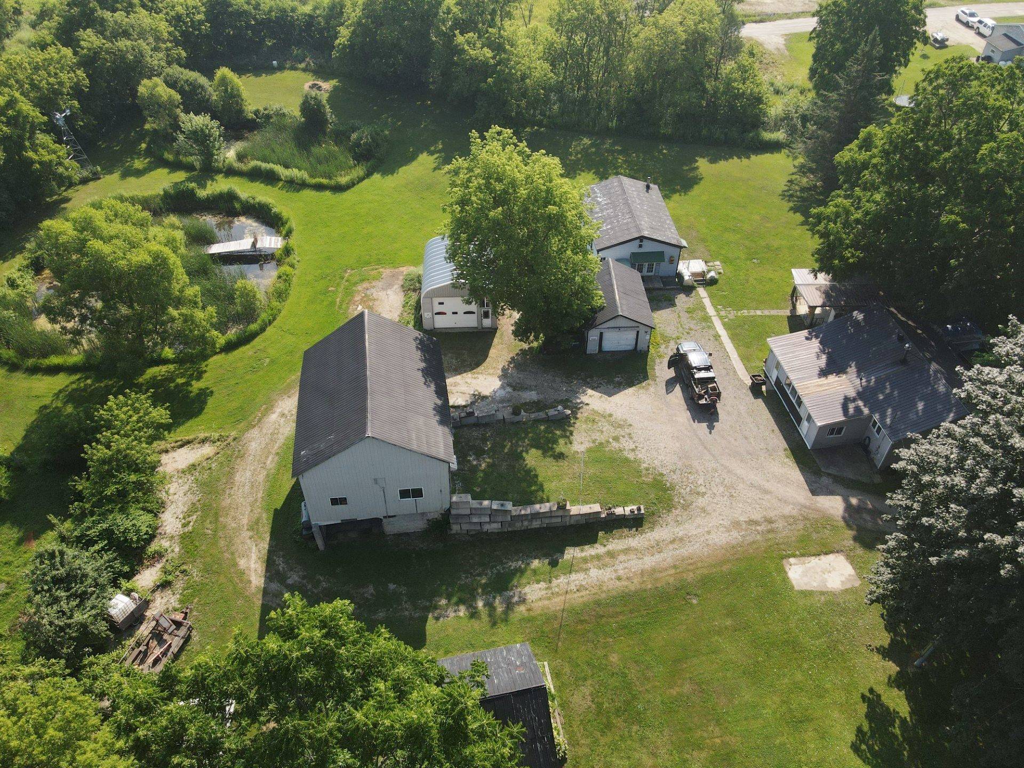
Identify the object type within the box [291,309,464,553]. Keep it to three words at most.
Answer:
barn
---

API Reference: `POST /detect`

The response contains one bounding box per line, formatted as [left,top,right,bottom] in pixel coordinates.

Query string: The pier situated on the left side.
[206,238,284,255]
